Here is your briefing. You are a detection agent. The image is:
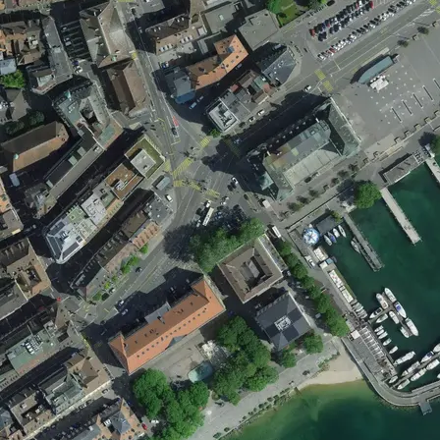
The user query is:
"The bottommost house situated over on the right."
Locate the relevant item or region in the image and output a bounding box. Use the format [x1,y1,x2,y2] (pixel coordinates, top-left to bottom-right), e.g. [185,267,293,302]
[256,291,314,350]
